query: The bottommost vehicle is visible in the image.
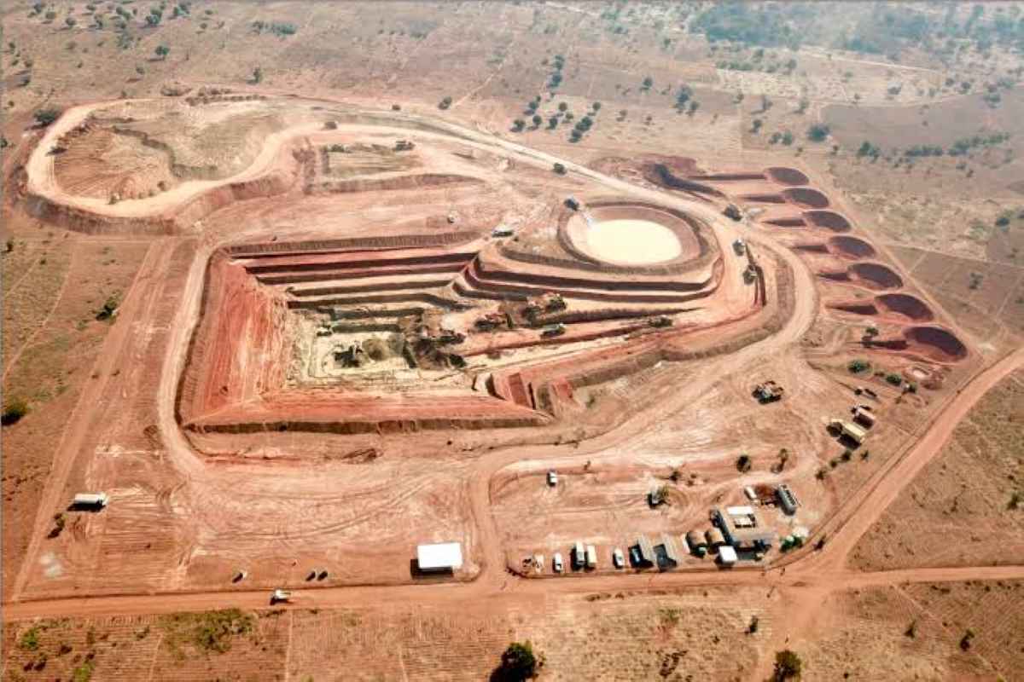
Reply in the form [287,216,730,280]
[268,592,293,604]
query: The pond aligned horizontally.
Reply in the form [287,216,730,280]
[586,219,682,264]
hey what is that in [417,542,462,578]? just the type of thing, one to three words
shed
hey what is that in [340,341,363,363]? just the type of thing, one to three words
work vehicle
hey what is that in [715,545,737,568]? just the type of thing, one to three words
building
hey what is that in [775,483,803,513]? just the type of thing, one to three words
truck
